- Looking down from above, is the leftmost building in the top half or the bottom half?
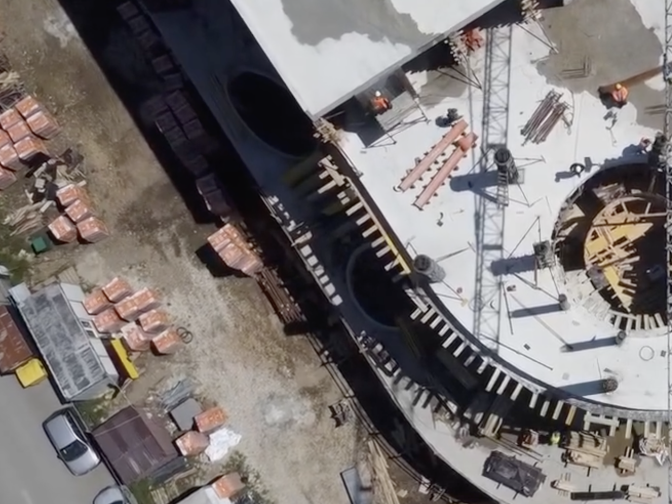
bottom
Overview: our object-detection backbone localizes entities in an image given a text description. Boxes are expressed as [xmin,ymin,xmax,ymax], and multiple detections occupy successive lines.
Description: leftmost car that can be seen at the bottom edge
[41,404,105,481]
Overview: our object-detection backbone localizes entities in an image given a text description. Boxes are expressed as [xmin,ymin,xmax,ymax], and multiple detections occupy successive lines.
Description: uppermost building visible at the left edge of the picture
[16,279,127,401]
